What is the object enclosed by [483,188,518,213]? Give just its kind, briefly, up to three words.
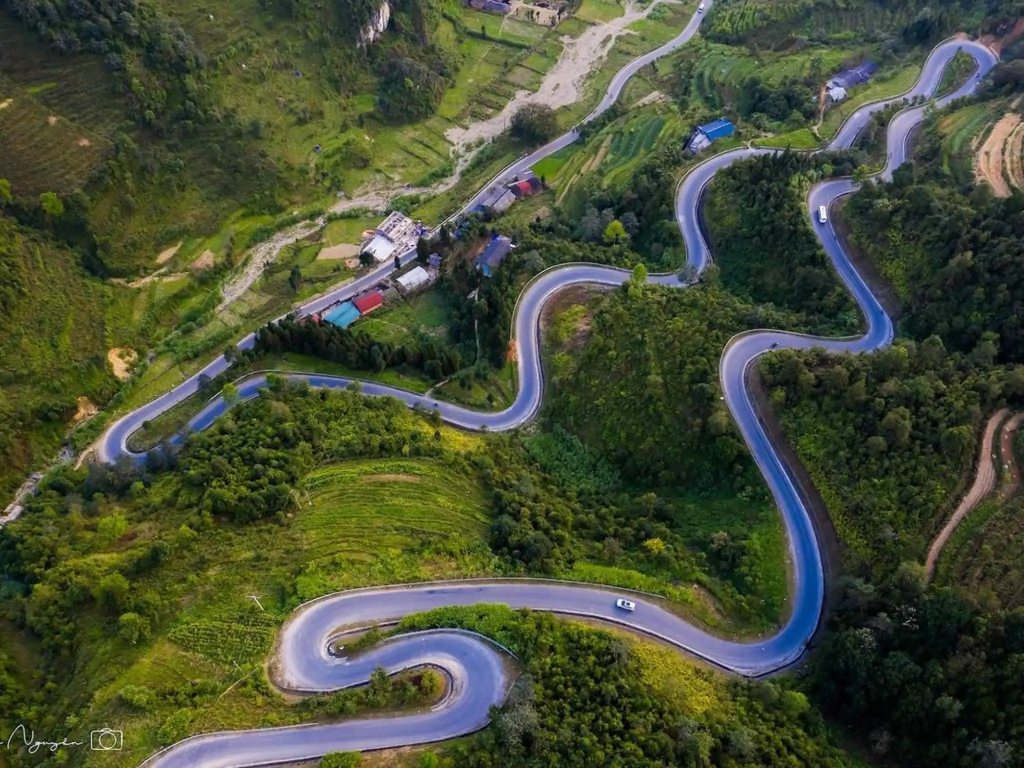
house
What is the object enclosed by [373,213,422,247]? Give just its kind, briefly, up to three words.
building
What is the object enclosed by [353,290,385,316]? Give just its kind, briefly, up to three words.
house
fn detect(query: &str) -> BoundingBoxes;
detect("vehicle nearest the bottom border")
[615,599,636,612]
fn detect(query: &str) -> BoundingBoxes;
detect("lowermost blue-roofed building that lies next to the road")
[326,302,364,331]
